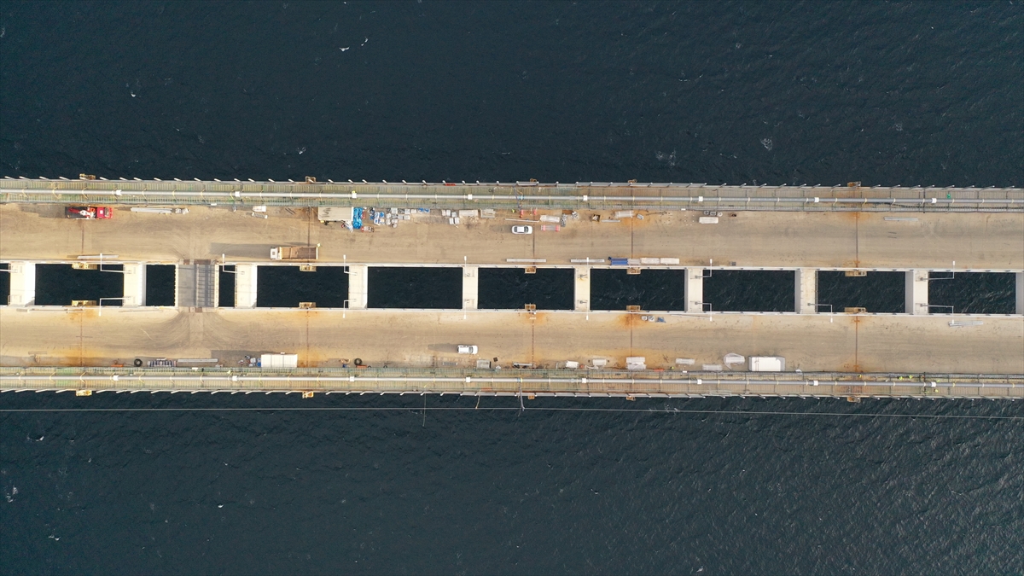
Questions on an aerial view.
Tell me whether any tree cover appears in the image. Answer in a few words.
No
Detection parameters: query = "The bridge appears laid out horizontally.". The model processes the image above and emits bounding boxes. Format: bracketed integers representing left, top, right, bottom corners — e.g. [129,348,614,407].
[0,178,1024,400]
